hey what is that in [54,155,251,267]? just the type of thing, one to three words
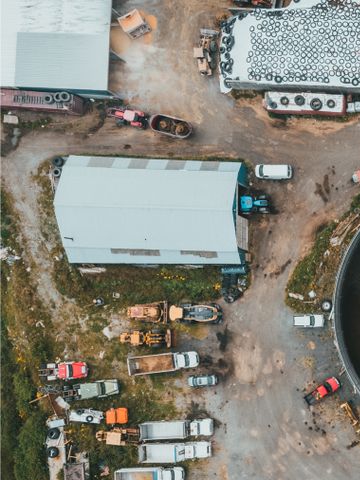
shed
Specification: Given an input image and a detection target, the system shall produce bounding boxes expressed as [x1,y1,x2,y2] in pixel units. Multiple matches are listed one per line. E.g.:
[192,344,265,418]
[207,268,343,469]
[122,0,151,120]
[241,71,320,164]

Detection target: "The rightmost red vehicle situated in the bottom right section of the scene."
[303,374,343,406]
